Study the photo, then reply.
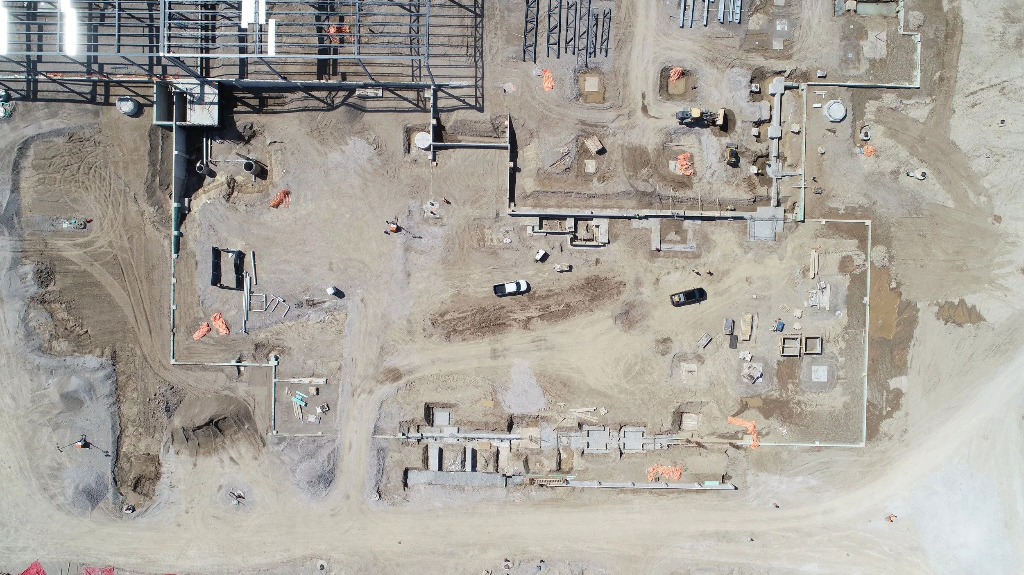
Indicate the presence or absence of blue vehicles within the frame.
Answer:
No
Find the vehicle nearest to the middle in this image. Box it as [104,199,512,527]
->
[492,279,527,296]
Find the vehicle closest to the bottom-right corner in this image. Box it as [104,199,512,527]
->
[671,288,708,307]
